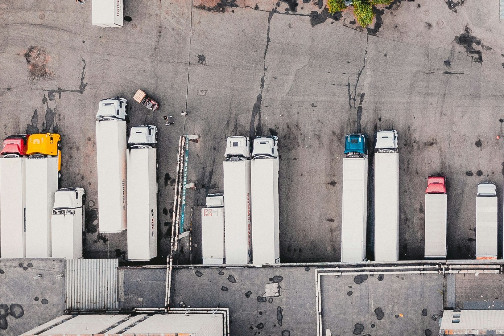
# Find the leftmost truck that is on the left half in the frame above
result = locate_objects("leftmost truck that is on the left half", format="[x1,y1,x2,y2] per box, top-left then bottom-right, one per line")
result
[0,133,36,257]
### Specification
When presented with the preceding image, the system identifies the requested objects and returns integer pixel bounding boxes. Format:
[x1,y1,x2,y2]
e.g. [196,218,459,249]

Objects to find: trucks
[25,132,64,257]
[92,0,129,27]
[201,191,225,259]
[0,133,36,257]
[250,135,282,259]
[474,181,499,256]
[126,124,162,259]
[374,129,403,259]
[342,132,369,259]
[424,174,449,256]
[51,185,89,259]
[224,135,254,259]
[95,98,131,234]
